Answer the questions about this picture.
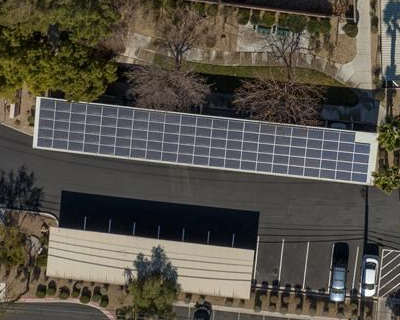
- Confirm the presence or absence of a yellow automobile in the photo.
No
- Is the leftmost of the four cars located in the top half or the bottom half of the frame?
bottom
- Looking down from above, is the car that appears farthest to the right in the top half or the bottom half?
bottom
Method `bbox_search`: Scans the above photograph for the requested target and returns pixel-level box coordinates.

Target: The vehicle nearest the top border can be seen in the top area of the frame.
[328,110,349,129]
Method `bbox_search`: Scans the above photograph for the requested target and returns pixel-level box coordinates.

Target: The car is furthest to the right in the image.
[359,248,380,294]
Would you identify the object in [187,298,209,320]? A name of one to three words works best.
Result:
car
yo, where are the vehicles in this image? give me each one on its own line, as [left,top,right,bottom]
[328,110,349,129]
[187,298,209,320]
[327,248,348,295]
[359,248,380,294]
